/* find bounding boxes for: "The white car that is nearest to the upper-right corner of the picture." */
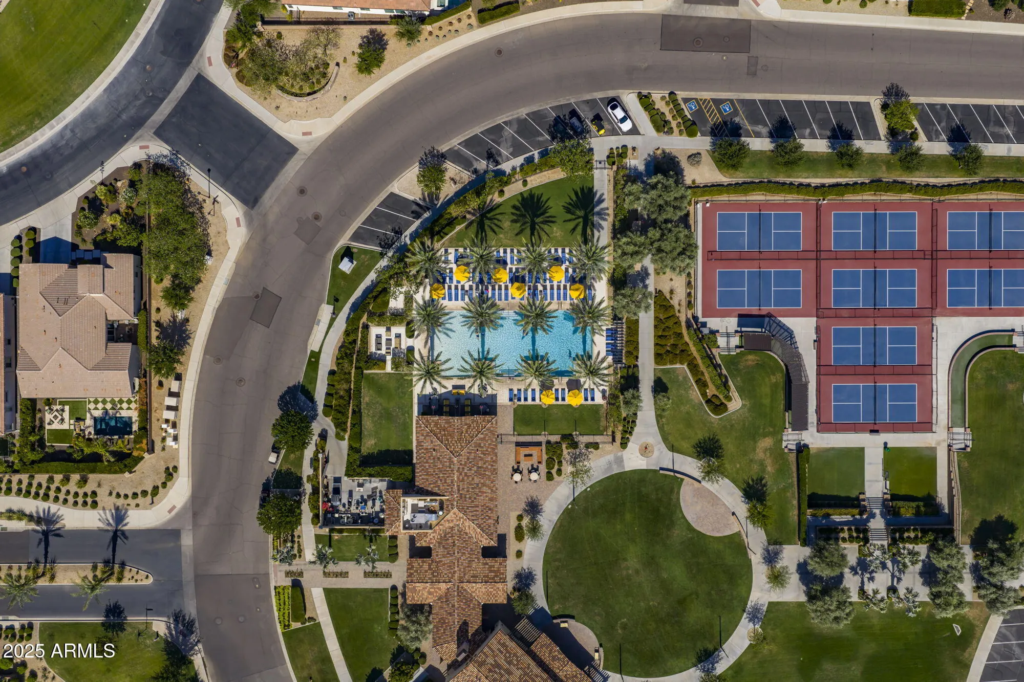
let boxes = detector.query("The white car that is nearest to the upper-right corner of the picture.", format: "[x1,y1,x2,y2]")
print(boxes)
[607,100,631,130]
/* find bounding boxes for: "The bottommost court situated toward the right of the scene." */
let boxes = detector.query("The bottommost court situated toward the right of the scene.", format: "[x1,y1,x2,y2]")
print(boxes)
[819,375,934,433]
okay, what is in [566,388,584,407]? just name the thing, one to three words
umbrella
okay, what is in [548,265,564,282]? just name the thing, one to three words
umbrella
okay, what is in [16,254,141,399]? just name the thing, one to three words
house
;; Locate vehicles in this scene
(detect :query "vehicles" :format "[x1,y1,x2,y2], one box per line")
[549,109,568,136]
[587,112,604,137]
[564,107,583,134]
[268,445,285,466]
[607,100,631,130]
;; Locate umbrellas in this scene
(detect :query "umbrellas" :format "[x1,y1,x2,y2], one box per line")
[509,281,527,299]
[569,283,586,299]
[430,283,446,299]
[548,265,564,282]
[566,388,584,407]
[453,264,471,282]
[492,268,508,284]
[539,389,556,405]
